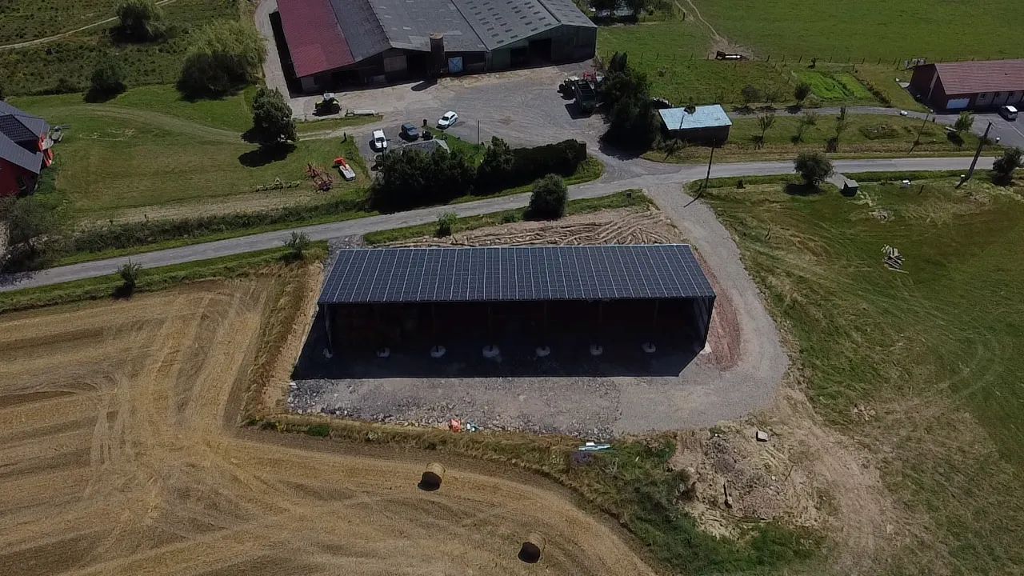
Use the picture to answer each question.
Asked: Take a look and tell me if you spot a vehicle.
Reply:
Yes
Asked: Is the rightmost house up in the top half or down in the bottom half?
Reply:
top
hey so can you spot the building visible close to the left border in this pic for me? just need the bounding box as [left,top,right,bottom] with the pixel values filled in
[0,101,56,193]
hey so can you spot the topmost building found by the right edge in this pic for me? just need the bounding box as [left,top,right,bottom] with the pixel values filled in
[902,62,1024,109]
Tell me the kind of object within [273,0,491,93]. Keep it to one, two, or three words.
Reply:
barn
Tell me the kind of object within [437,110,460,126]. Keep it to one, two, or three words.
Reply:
car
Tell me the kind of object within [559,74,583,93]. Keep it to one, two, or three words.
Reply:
work vehicle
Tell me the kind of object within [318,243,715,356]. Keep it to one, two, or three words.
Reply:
shed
